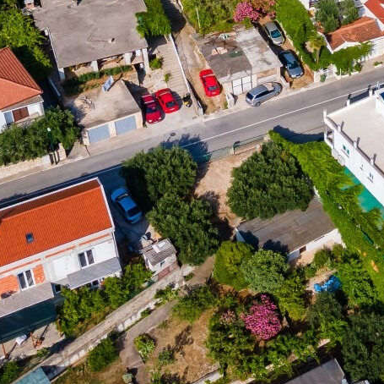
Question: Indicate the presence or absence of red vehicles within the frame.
Yes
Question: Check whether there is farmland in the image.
No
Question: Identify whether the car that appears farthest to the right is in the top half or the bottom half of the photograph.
top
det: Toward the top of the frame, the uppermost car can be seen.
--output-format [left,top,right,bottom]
[265,20,284,44]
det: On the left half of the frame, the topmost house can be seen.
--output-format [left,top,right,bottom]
[37,0,150,87]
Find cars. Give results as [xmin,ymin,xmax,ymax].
[141,94,162,120]
[200,69,219,96]
[157,86,182,113]
[265,20,284,44]
[282,51,302,76]
[112,188,140,220]
[246,83,283,103]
